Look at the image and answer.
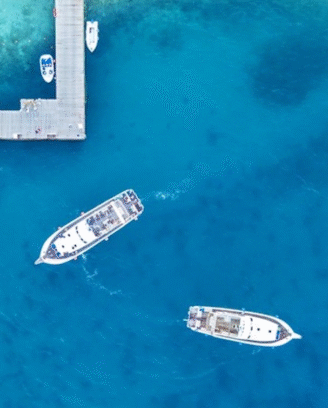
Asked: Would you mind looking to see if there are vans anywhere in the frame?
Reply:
No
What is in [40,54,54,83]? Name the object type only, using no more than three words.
boat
